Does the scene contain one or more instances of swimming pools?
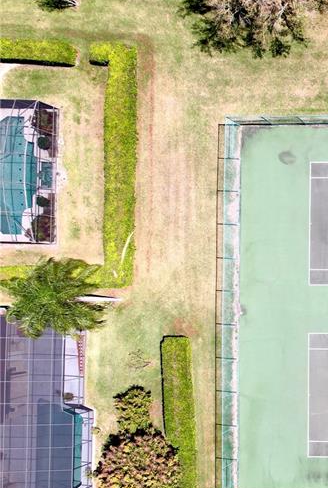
Yes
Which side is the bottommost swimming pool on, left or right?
left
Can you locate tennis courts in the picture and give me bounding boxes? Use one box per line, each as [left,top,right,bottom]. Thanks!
[233,124,328,312]
[233,312,328,488]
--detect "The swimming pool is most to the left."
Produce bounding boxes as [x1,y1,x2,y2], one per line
[0,117,34,234]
